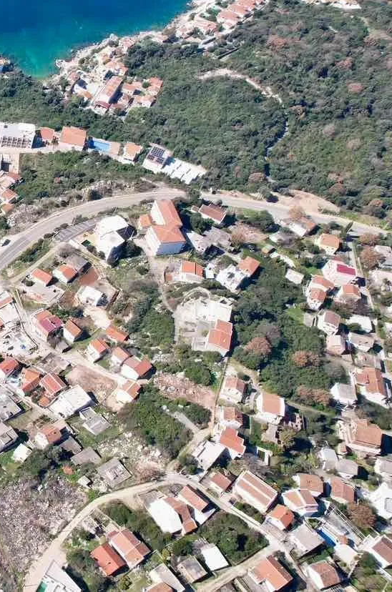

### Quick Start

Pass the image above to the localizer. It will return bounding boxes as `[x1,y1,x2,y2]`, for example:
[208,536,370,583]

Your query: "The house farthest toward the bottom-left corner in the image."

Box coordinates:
[32,560,80,592]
